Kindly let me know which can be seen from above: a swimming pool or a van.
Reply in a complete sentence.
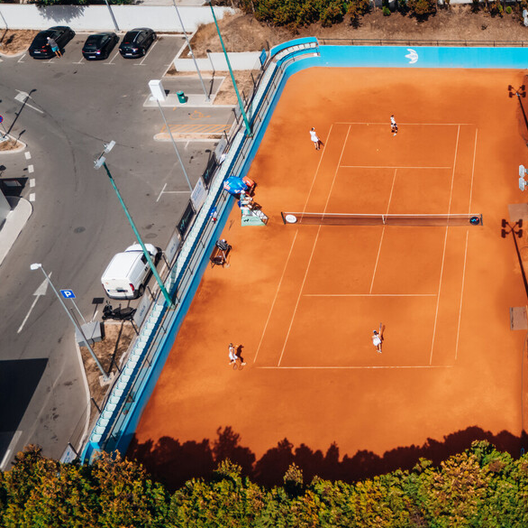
The image shows a van.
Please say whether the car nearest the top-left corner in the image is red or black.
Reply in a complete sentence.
The car nearest the top-left corner is black.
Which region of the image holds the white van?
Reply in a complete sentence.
Look in the left portion of the view to spot the white van.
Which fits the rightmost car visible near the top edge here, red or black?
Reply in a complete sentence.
In this view, the rightmost car visible near the top edge is black.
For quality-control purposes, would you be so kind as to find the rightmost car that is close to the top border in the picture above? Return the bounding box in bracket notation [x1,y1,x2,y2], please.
[117,26,156,55]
